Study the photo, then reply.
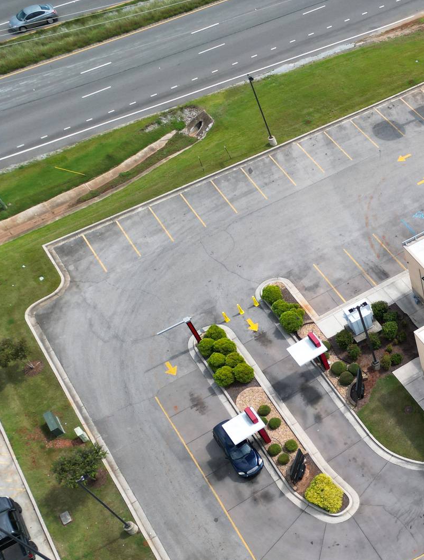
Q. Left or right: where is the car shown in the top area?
left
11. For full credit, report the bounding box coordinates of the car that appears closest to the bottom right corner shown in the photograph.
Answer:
[210,412,259,475]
